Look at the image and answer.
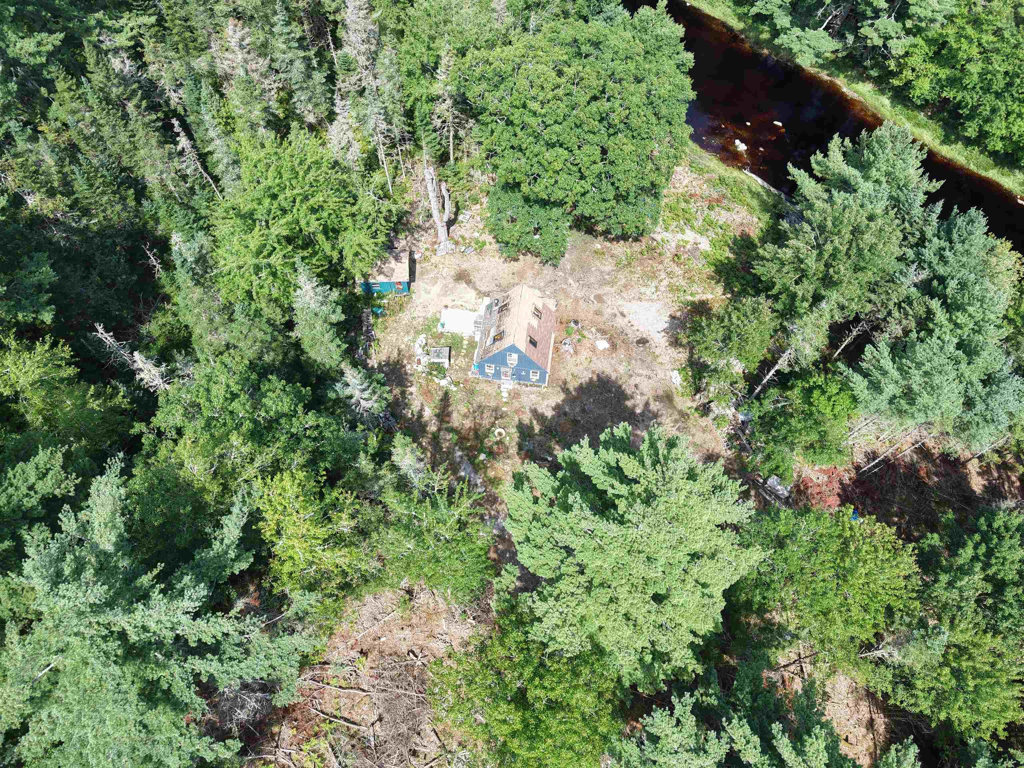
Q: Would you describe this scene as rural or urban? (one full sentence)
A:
From above, the setting appears rural.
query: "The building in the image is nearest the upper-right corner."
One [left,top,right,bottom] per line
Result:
[476,280,559,386]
